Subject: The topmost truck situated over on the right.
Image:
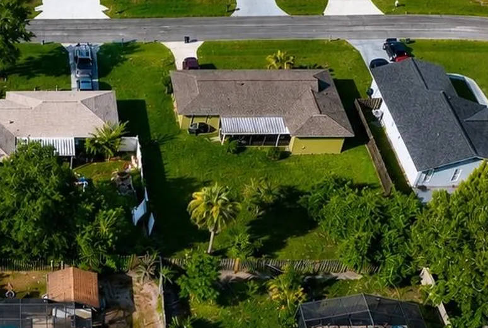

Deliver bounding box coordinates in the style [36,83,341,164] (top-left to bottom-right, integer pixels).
[380,37,411,60]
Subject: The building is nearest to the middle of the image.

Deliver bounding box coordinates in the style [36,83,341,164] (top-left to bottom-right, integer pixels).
[169,70,356,153]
